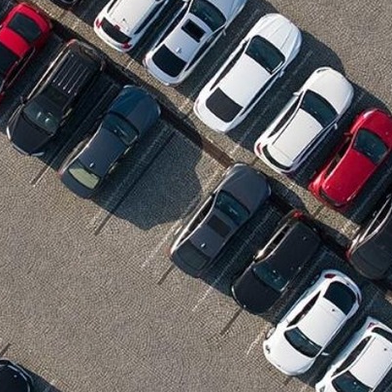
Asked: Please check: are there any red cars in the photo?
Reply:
Yes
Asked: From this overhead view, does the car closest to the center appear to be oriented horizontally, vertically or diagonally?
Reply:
diagonally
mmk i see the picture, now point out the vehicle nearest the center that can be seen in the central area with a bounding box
[170,165,270,278]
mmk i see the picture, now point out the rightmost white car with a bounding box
[316,317,392,392]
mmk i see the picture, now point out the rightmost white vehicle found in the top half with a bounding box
[253,68,356,178]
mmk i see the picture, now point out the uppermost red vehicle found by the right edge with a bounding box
[308,107,392,214]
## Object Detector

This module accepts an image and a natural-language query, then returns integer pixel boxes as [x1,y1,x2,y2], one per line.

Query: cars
[316,317,392,392]
[0,359,34,392]
[230,210,327,311]
[264,270,364,373]
[253,68,356,178]
[195,15,302,132]
[146,0,246,87]
[346,187,392,281]
[7,40,108,155]
[60,88,160,199]
[0,2,52,100]
[170,165,270,278]
[308,107,392,214]
[93,0,175,55]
